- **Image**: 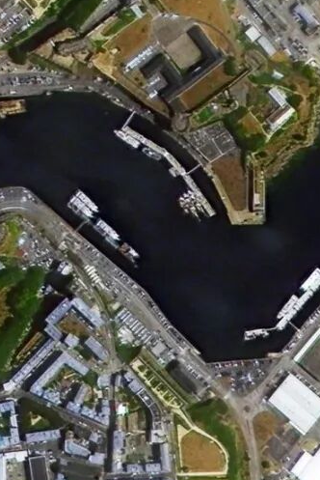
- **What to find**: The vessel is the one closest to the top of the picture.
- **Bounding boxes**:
[0,100,25,113]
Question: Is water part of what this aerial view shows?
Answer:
Yes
